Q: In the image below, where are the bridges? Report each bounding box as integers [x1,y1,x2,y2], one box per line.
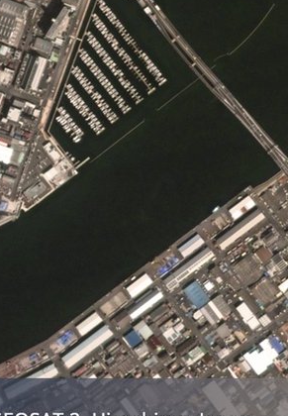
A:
[151,0,288,177]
